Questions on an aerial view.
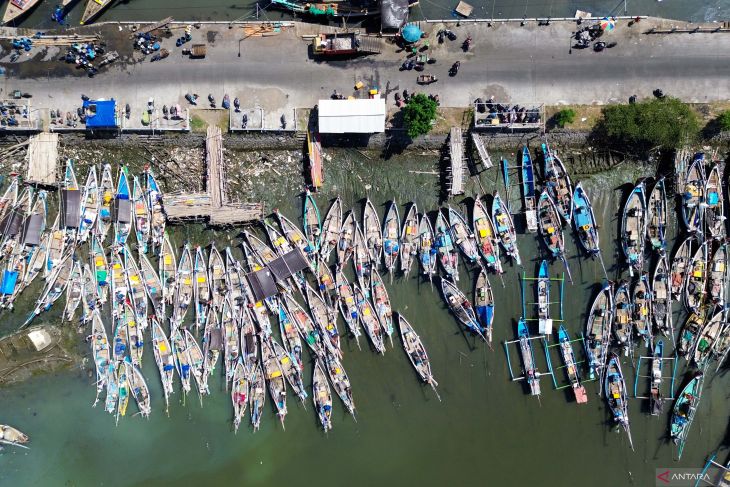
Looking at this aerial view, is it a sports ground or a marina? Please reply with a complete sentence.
It's a marina.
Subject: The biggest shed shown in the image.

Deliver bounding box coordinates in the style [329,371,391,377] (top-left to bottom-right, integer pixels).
[317,98,386,136]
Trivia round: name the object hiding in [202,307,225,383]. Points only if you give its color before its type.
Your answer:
gray boat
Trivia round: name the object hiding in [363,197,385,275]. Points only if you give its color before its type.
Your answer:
white boat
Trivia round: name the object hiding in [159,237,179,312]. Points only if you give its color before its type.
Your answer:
white boat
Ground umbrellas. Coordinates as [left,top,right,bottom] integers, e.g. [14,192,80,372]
[401,24,421,43]
[599,14,615,30]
